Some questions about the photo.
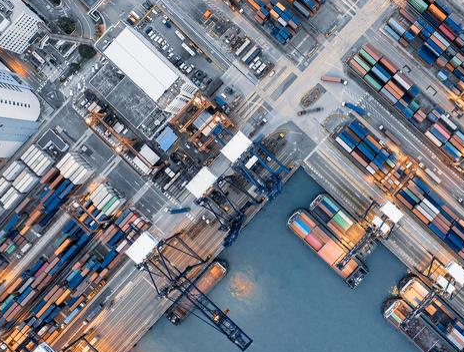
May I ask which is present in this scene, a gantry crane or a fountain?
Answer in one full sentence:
Looking from above, you can make out a gantry crane.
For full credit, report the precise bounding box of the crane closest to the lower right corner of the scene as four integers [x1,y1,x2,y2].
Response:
[405,240,464,324]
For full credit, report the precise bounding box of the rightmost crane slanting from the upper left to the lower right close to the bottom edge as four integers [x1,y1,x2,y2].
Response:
[126,224,251,349]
